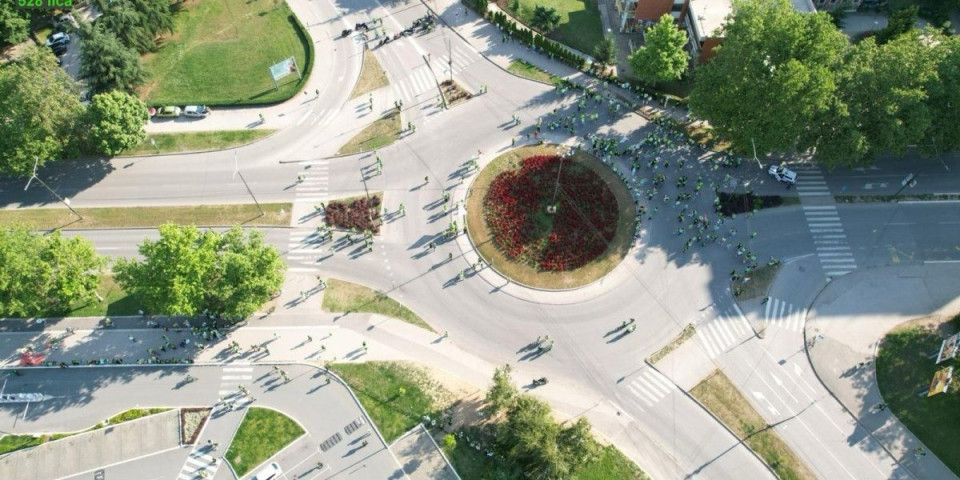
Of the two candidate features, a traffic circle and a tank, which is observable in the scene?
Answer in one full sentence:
It is a traffic circle that can be seen here.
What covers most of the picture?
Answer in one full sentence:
The bulk of the photo consists of paved ground.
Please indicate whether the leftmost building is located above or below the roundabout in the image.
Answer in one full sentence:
Looking at the photo, you'll find the leftmost building above the roundabout.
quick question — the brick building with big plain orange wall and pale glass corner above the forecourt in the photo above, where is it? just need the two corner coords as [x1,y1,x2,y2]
[617,0,683,34]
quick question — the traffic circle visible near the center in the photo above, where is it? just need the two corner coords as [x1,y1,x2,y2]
[452,132,650,303]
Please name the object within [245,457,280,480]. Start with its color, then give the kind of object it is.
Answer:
white car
